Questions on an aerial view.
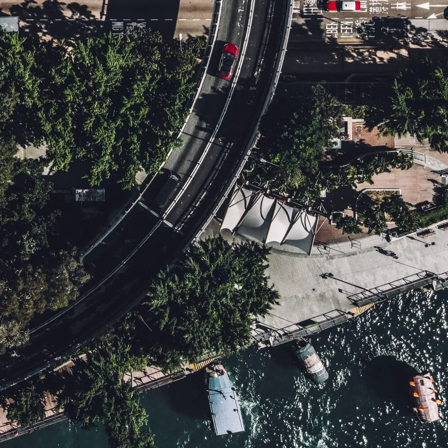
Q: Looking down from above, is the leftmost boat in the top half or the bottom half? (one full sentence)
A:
Seen from above, the leftmost boat lies in the bottom half of the view.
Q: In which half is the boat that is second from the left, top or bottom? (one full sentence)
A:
The bottom half of the photo is where the boat that is second from the left is.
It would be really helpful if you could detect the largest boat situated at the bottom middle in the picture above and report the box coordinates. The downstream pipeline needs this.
[199,366,240,438]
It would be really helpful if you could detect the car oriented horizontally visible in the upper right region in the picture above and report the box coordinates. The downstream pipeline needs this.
[328,0,360,13]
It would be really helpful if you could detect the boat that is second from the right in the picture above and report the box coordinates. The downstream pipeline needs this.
[289,336,333,390]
